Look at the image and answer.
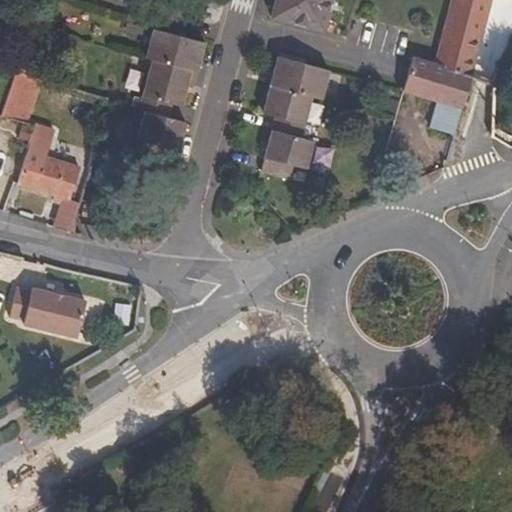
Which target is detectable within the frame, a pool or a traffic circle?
traffic circle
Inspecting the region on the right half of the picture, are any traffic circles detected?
Yes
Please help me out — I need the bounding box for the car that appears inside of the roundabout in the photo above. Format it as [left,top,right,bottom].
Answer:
[338,245,354,268]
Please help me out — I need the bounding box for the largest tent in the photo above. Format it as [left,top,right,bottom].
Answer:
[314,146,335,168]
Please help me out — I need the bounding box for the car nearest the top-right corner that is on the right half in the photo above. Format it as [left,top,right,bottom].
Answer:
[397,33,409,54]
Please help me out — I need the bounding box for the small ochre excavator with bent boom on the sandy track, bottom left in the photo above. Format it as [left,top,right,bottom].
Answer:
[8,468,34,488]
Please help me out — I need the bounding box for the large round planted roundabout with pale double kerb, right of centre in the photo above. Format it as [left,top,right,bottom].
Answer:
[312,214,484,386]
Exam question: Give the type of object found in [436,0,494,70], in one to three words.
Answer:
building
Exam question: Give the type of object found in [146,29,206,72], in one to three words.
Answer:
house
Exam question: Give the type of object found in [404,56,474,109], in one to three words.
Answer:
building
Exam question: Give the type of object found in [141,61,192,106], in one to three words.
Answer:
house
